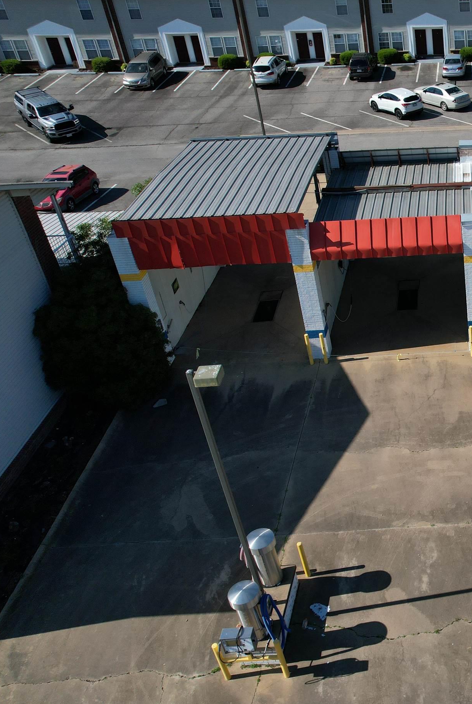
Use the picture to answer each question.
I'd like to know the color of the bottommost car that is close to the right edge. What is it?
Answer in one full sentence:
The bottommost car that is close to the right edge is white.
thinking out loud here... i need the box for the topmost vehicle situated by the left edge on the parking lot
[16,81,94,141]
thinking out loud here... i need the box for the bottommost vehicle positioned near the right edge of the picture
[416,79,472,111]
